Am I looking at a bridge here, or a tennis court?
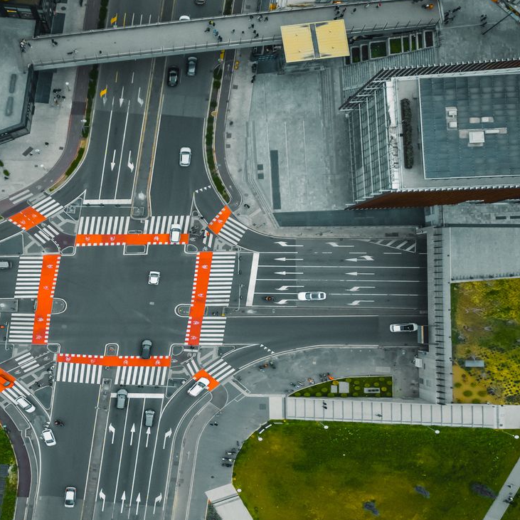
bridge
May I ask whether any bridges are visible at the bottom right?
Yes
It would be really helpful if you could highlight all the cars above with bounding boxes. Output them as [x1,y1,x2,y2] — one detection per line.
[63,488,77,509]
[143,410,156,428]
[0,261,11,269]
[148,270,160,287]
[167,64,181,87]
[0,373,14,390]
[186,56,199,76]
[41,428,57,448]
[116,389,129,409]
[391,323,414,333]
[299,291,327,302]
[179,146,192,166]
[140,340,153,359]
[13,396,36,416]
[170,223,182,243]
[189,377,210,399]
